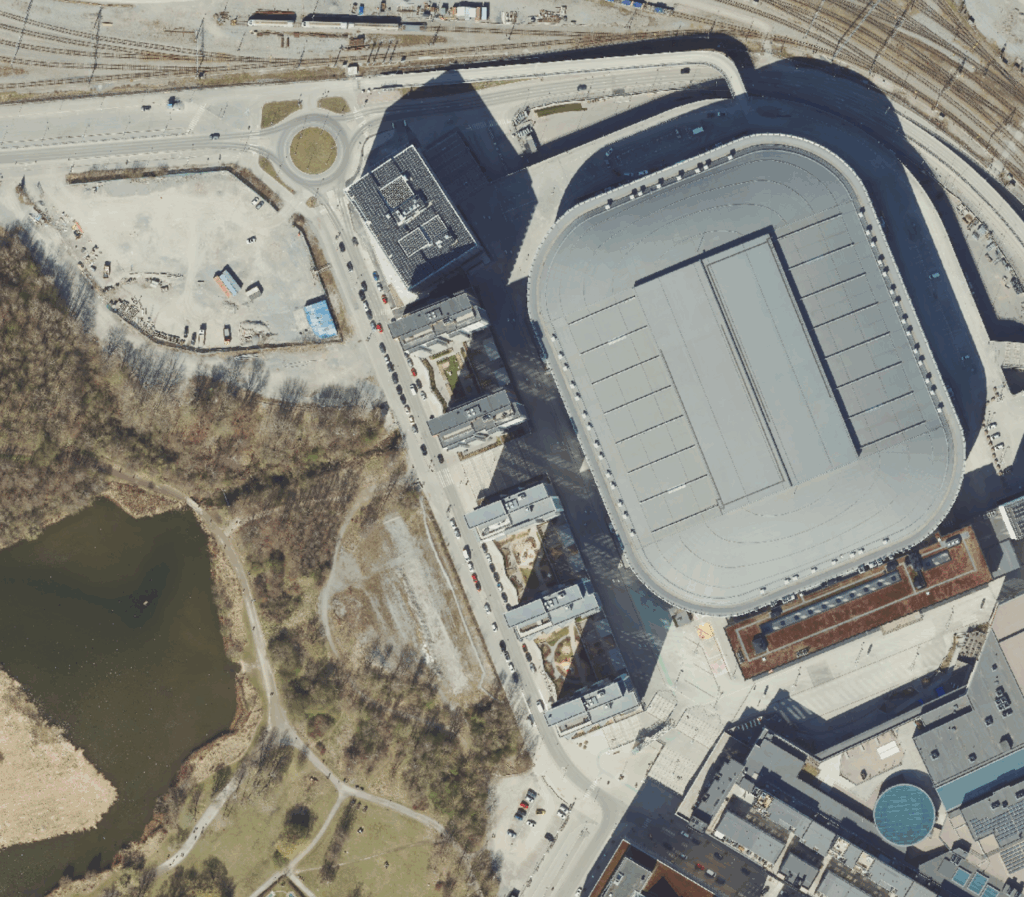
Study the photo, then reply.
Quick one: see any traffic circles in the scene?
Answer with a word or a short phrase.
Yes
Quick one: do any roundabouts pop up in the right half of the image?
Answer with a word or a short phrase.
No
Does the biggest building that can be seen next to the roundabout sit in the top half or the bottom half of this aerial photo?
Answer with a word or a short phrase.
top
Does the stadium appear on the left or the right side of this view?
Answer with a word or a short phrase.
right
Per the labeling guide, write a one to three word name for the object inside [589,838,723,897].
building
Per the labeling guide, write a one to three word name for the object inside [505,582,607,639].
building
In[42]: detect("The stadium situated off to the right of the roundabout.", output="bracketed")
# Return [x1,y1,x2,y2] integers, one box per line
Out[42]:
[528,134,965,626]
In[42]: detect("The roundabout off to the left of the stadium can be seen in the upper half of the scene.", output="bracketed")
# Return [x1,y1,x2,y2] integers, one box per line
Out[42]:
[277,114,350,186]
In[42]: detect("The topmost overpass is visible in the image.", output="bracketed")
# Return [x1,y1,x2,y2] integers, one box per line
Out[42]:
[351,49,747,99]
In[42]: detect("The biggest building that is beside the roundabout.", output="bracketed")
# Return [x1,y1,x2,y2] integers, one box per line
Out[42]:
[347,146,482,296]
